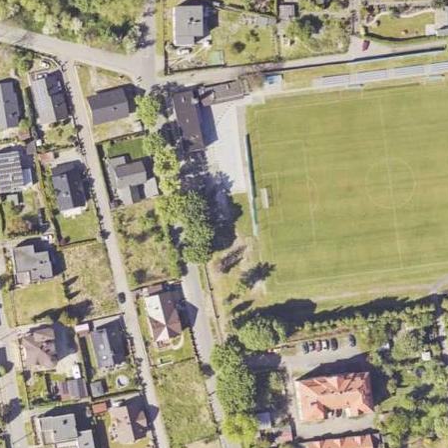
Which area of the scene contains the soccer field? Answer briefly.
right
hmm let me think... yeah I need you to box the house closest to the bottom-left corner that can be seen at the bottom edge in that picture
[37,413,77,447]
